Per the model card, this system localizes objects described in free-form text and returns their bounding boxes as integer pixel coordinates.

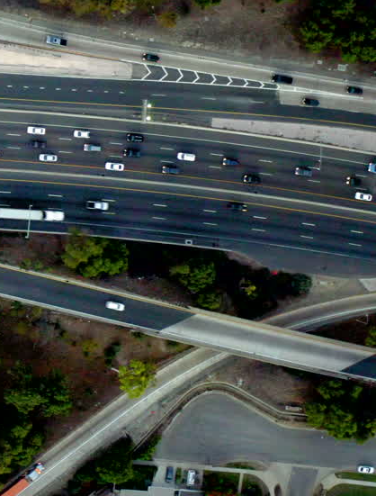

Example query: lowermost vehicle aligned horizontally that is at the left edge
[0,208,64,222]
